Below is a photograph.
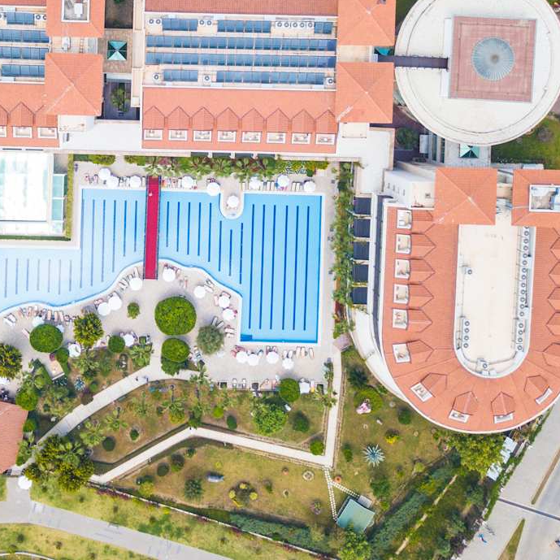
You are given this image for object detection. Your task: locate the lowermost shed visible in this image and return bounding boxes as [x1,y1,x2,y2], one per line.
[333,489,374,533]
